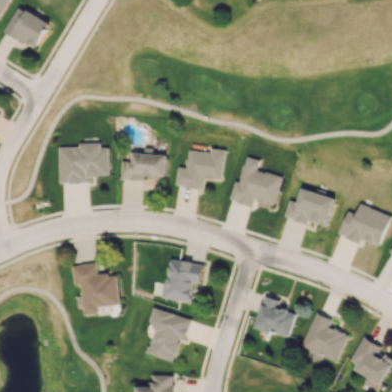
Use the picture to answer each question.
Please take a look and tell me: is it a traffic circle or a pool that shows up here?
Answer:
pool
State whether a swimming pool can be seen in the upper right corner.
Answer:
No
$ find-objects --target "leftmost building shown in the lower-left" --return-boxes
[73,262,120,317]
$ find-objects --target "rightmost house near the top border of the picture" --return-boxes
[6,11,49,48]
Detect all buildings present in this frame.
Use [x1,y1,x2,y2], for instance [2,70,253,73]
[349,338,392,392]
[163,260,204,304]
[304,313,350,364]
[122,148,168,181]
[339,203,392,246]
[254,298,296,337]
[6,11,49,48]
[134,376,174,392]
[176,144,227,190]
[146,308,191,362]
[59,144,110,185]
[231,158,284,208]
[286,190,336,227]
[73,262,120,317]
